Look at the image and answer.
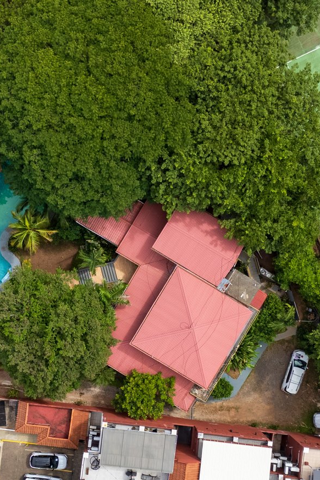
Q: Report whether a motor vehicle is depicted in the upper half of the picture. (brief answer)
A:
No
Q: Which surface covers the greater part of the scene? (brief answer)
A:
trees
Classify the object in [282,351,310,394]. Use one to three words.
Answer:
car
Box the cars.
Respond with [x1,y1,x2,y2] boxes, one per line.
[282,351,310,394]
[312,412,320,430]
[28,451,68,474]
[21,474,61,480]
